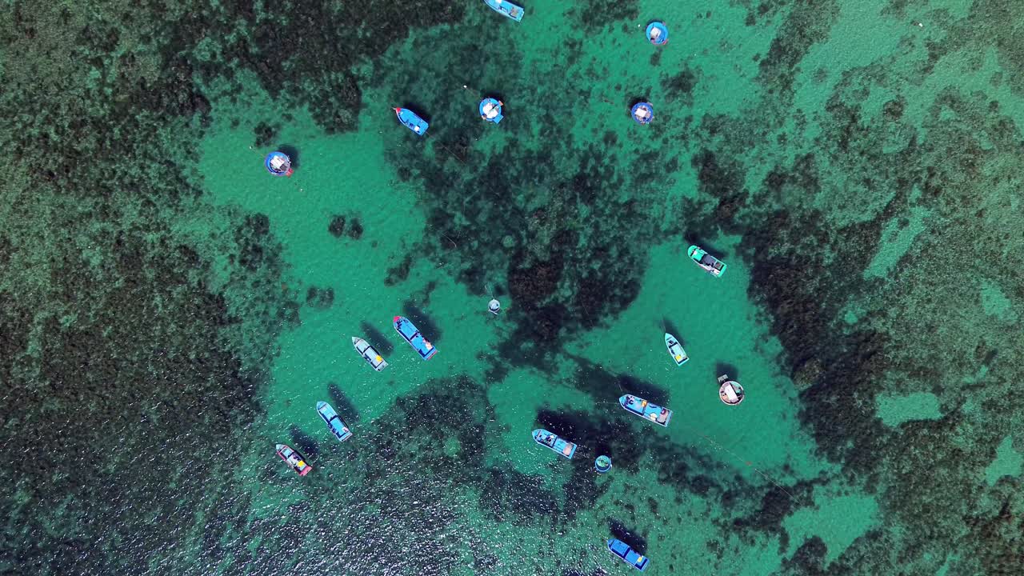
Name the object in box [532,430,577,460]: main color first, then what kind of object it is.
blue boat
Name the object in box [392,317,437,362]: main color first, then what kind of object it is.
blue boat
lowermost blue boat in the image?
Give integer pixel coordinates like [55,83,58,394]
[607,537,650,572]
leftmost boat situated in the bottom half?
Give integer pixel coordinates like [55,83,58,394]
[275,444,312,478]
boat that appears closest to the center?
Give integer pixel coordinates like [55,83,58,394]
[488,299,500,312]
